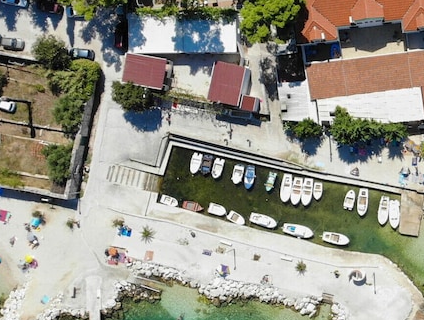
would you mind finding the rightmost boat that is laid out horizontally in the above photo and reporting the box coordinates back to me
[320,230,351,244]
